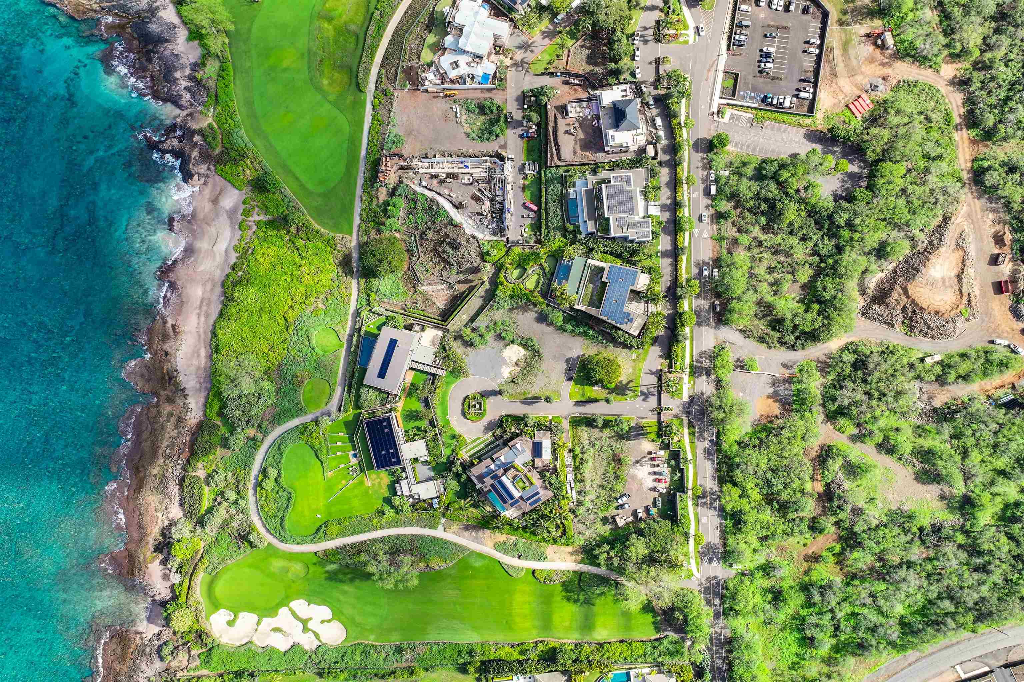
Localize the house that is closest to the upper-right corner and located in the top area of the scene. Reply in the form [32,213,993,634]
[598,83,647,152]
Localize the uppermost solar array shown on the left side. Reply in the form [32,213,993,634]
[377,339,397,379]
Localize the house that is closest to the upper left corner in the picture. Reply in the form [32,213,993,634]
[433,0,509,85]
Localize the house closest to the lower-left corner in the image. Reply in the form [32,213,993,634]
[363,413,446,500]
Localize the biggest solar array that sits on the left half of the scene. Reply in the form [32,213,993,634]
[365,417,402,470]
